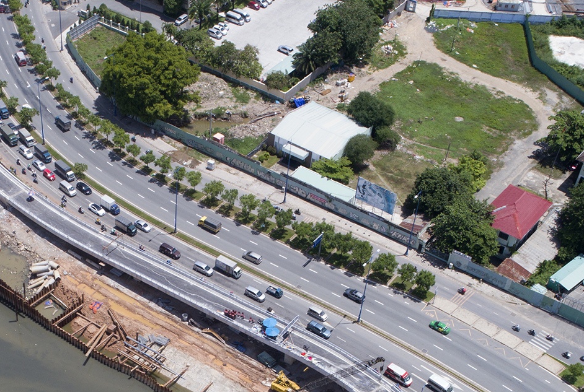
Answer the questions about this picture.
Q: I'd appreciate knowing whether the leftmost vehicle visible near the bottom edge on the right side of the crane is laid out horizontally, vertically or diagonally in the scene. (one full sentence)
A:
The leftmost vehicle visible near the bottom edge on the right side of the crane is oriented diagonally.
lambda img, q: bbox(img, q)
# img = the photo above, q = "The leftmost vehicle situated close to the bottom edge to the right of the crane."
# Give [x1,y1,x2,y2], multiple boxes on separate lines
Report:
[384,363,411,388]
